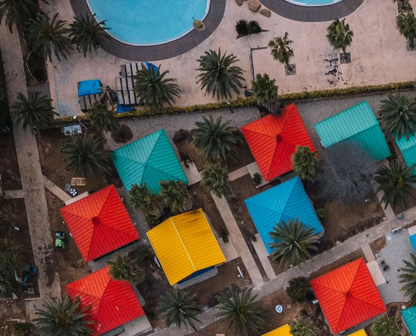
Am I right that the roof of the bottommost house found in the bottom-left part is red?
Yes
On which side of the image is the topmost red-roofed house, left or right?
right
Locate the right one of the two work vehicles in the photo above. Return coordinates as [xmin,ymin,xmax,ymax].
[50,232,65,251]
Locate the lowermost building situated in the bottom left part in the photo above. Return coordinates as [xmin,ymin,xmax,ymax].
[65,261,148,336]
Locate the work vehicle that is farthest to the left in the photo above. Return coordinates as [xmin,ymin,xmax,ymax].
[20,265,40,291]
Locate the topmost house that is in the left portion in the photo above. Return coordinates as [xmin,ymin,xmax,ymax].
[113,128,191,199]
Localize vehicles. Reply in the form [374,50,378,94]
[20,265,40,291]
[50,232,65,251]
